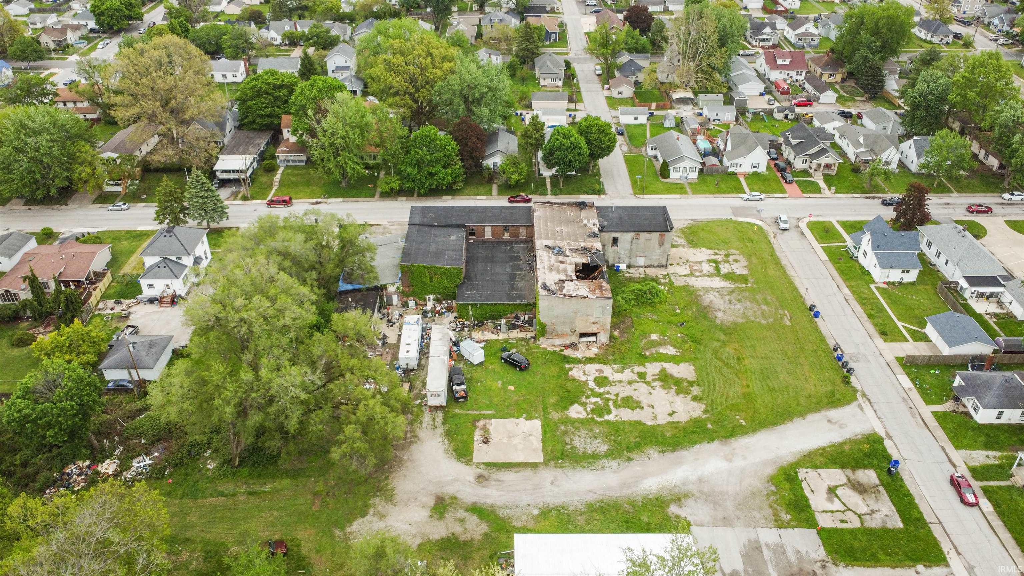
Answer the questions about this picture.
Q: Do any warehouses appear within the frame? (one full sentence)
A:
Yes, there is a warehouse in the image.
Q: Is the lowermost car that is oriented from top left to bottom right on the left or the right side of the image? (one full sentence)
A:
It is on the right.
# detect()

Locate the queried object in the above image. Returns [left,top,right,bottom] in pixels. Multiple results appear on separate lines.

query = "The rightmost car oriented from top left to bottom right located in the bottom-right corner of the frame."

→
[948,473,981,511]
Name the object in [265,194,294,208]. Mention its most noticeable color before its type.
red vehicle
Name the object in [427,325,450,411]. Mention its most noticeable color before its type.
white trailer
